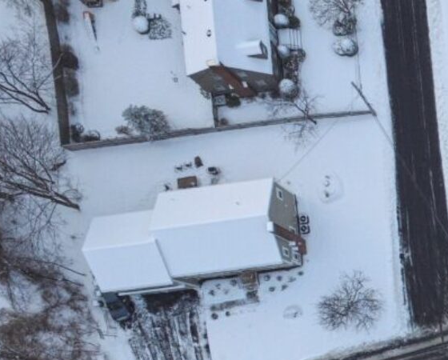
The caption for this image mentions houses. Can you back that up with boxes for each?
[84,178,302,299]
[182,0,312,107]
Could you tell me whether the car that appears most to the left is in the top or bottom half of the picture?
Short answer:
bottom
